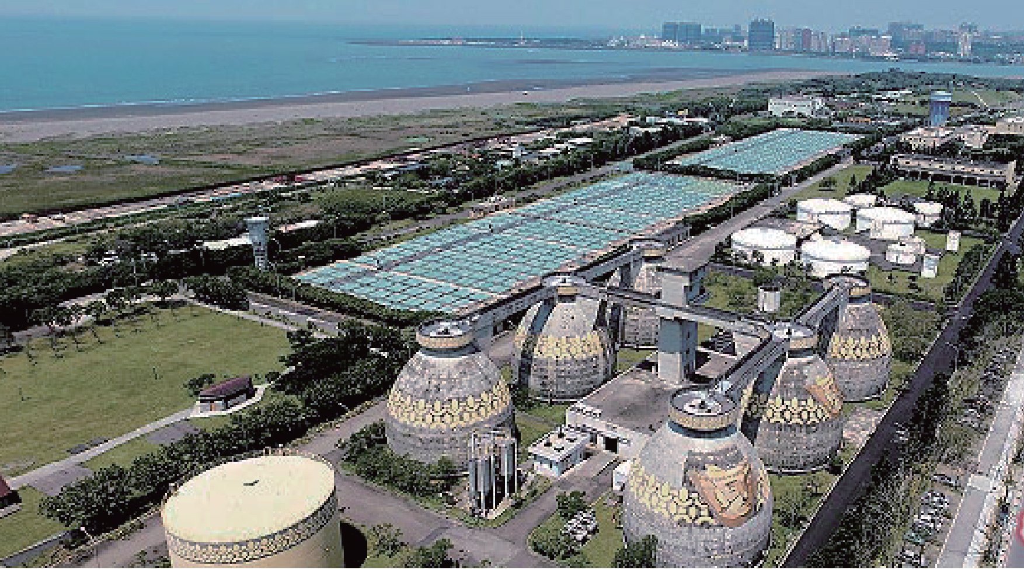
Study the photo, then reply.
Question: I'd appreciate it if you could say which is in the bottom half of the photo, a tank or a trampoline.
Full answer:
What appears in the bottom half of the photo is a tank.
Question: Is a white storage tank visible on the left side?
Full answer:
Yes, a white storage tank is visible on the left side.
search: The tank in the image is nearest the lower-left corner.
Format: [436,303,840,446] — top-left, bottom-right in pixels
[161,443,338,569]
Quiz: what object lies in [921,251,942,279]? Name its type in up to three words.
silo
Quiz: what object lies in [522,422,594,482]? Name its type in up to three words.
house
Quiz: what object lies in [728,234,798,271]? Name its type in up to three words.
storage tank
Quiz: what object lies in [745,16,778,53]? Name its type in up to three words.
building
